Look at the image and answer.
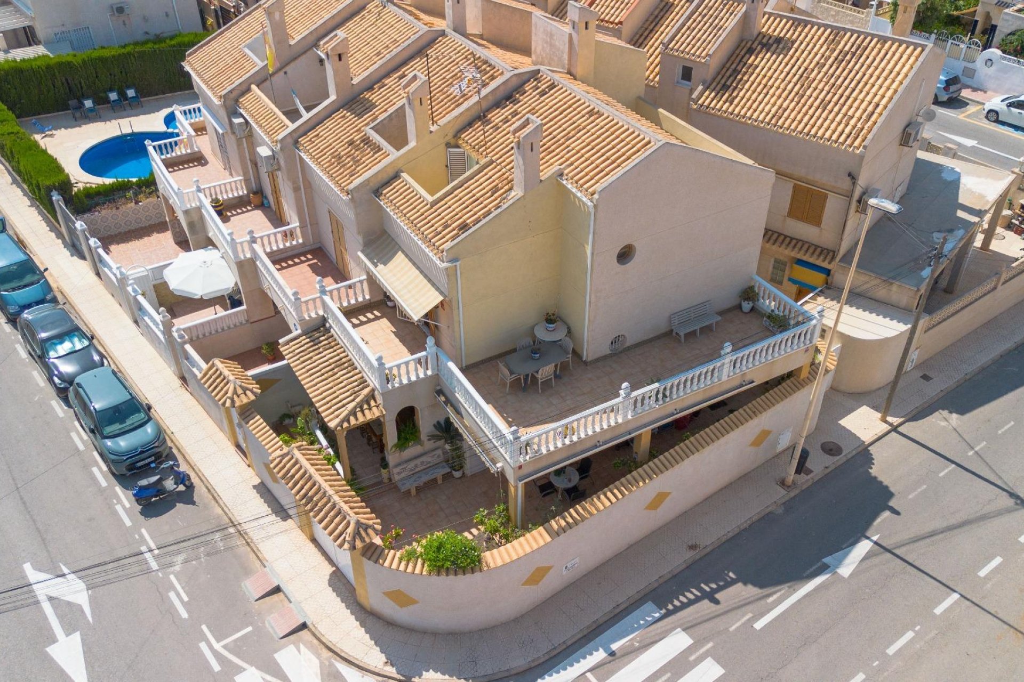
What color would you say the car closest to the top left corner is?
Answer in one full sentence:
In this view, the car closest to the top left corner is blue.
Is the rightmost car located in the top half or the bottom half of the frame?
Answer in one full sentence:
The top half of the photo is where the rightmost car is.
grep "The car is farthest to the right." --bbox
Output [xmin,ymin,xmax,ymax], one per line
[982,91,1024,124]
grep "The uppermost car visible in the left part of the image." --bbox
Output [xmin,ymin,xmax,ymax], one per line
[0,239,65,335]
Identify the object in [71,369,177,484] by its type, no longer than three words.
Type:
car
